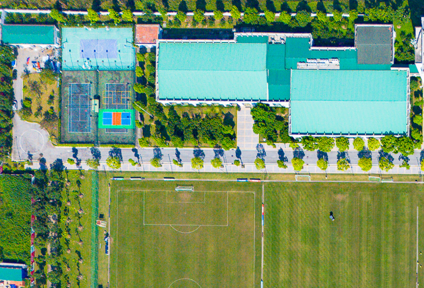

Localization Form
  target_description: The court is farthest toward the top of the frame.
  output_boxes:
[61,27,135,70]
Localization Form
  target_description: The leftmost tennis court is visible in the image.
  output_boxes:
[61,70,97,144]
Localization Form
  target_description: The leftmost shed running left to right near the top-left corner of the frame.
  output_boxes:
[3,26,60,49]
